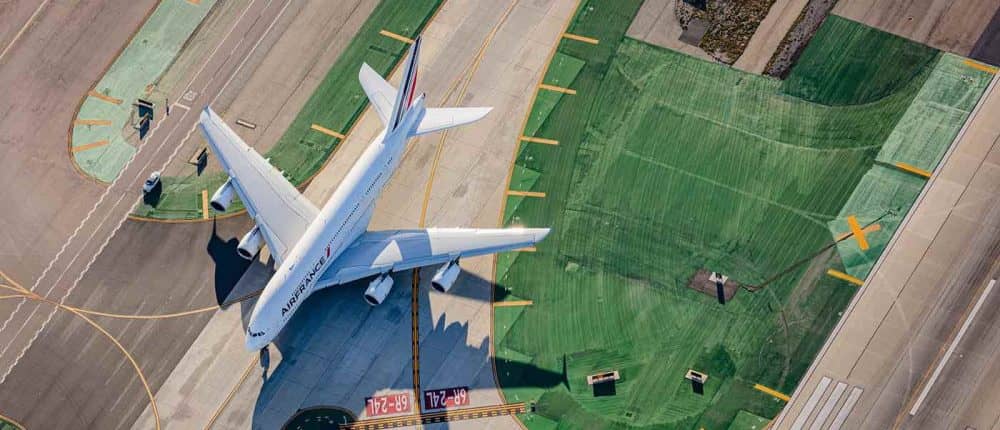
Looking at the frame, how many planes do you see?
1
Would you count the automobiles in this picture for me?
one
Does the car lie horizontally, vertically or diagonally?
diagonally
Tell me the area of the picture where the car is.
left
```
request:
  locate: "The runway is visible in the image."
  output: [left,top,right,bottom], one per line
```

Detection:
[753,60,1000,430]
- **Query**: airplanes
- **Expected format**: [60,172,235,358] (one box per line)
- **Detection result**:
[199,39,552,351]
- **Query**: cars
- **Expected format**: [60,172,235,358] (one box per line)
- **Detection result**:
[141,173,161,194]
